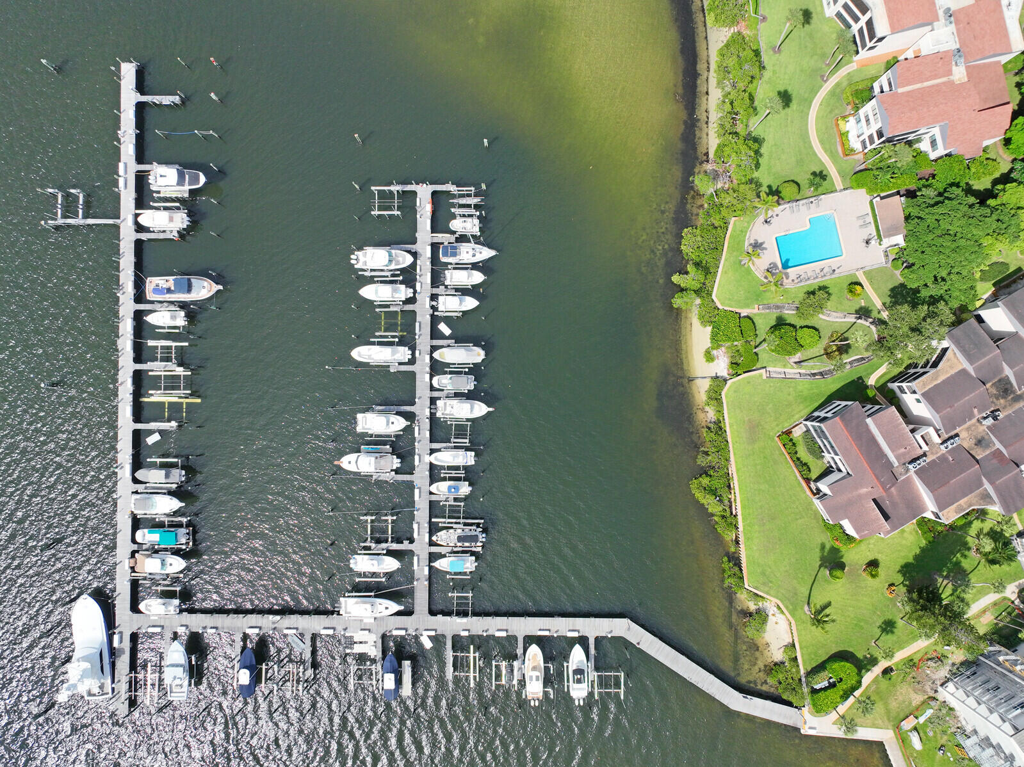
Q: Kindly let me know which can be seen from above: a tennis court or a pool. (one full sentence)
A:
There is a pool in the scene.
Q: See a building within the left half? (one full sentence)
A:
No, no building appears within the left half.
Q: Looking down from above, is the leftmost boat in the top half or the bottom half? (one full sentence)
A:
The leftmost boat sits in the bottom half of the picture.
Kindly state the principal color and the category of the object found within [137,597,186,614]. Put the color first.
white boat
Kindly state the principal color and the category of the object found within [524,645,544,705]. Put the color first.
white boat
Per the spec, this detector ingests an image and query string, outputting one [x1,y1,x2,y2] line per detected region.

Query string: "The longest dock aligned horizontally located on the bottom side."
[130,613,802,729]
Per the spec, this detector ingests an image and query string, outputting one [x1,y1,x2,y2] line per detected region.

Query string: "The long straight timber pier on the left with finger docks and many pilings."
[48,58,187,715]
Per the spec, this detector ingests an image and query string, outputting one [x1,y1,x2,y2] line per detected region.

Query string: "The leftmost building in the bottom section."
[805,401,938,538]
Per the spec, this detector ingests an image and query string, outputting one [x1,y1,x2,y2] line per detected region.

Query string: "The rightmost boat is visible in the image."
[917,707,933,723]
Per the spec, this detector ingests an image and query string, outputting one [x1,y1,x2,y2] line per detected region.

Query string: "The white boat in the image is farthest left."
[60,596,117,703]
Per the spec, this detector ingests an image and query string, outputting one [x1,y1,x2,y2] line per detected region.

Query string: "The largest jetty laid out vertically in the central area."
[371,181,456,617]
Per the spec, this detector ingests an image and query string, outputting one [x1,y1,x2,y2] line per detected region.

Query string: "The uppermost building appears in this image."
[824,0,1024,80]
